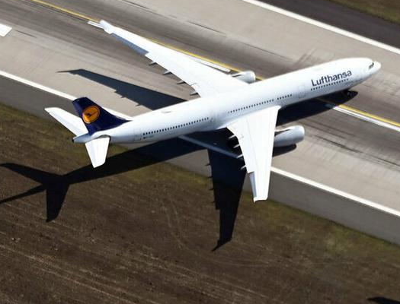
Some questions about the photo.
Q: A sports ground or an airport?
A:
airport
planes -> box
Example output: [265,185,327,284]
[45,20,380,203]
